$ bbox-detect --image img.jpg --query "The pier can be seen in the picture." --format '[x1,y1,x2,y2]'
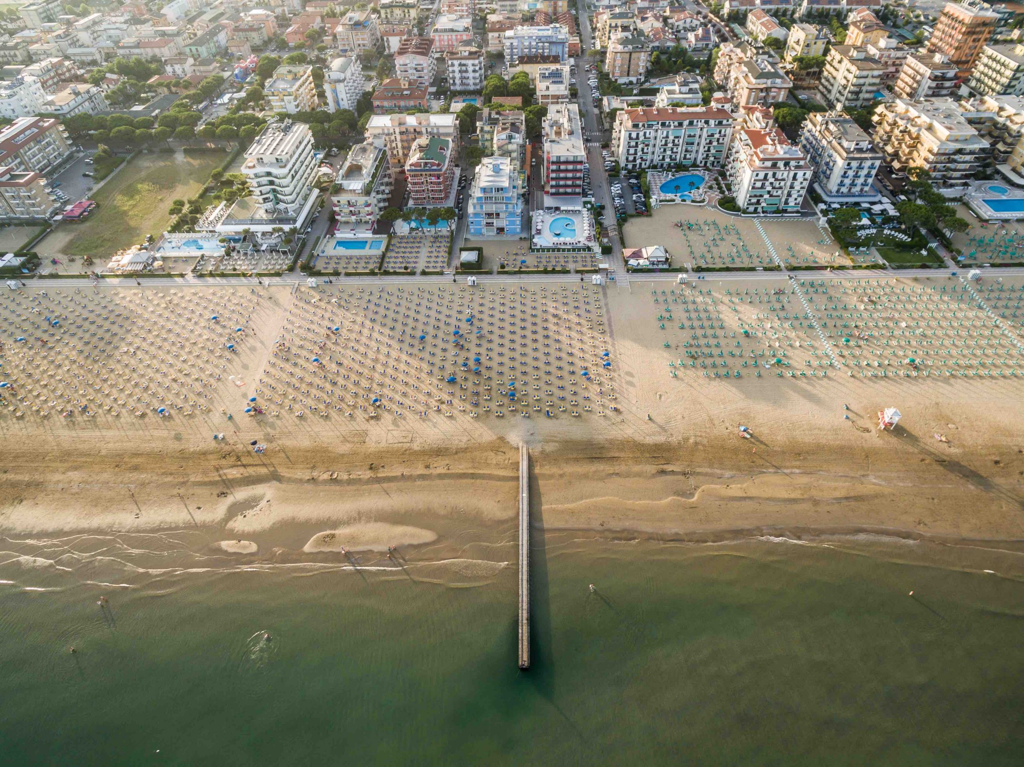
[517,440,531,670]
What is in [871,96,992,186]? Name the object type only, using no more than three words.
building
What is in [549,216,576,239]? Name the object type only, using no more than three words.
swimming pool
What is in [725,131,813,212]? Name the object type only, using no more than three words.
building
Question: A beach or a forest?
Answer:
beach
